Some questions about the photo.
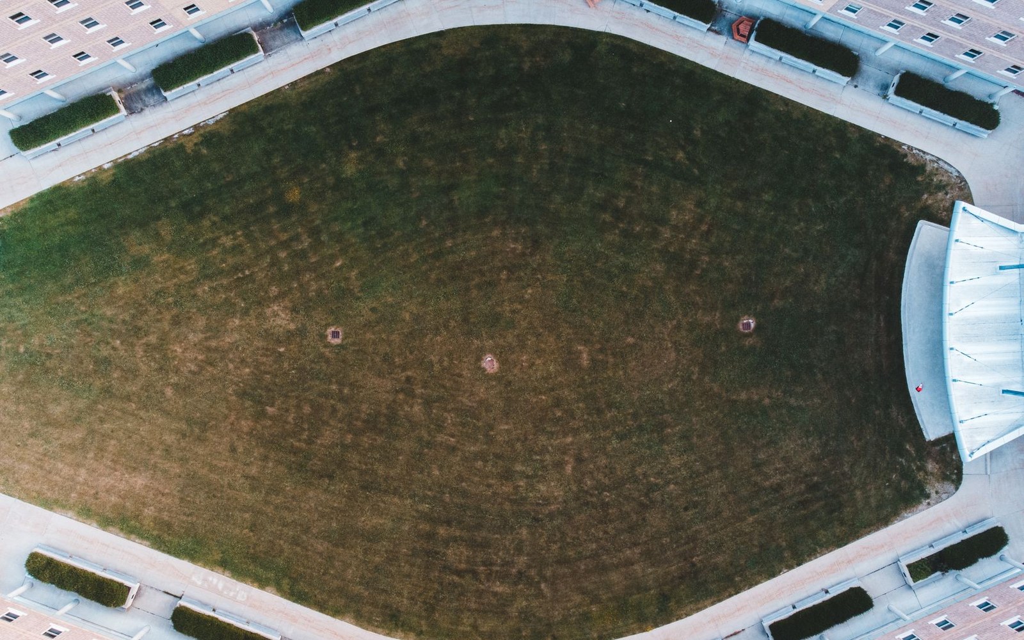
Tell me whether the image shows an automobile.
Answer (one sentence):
No, the frame has no automobile in it.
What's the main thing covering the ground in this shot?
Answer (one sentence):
For the most part, this view shows grass.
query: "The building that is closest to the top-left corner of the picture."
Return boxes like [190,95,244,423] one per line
[0,0,274,121]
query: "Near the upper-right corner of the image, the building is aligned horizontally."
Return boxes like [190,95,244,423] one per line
[776,0,1024,100]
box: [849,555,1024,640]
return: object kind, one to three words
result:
building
